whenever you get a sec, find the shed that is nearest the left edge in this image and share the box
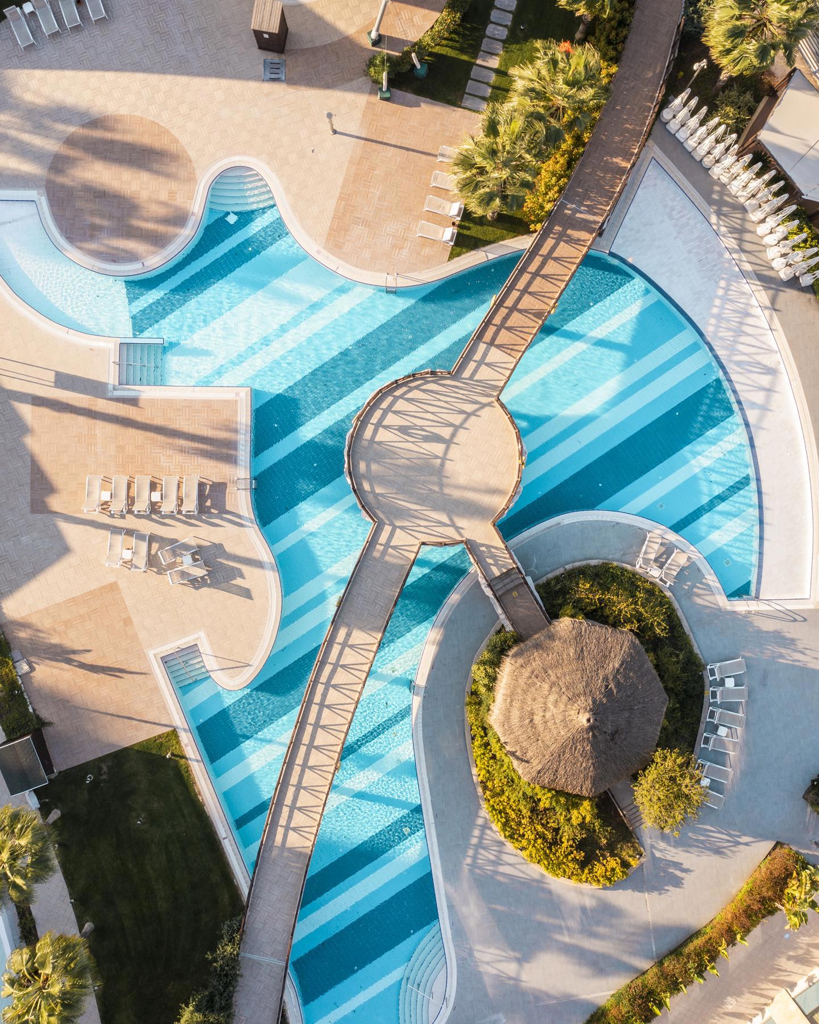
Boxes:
[0,730,55,796]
